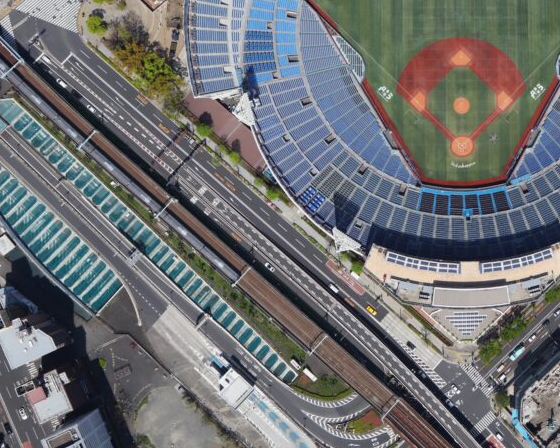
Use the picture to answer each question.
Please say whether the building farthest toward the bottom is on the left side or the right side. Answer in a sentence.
The building farthest toward the bottom appears in the left half of the scene.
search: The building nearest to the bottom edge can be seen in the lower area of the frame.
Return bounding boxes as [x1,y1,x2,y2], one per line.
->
[41,397,130,448]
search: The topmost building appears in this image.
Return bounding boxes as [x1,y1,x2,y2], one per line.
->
[0,233,19,257]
